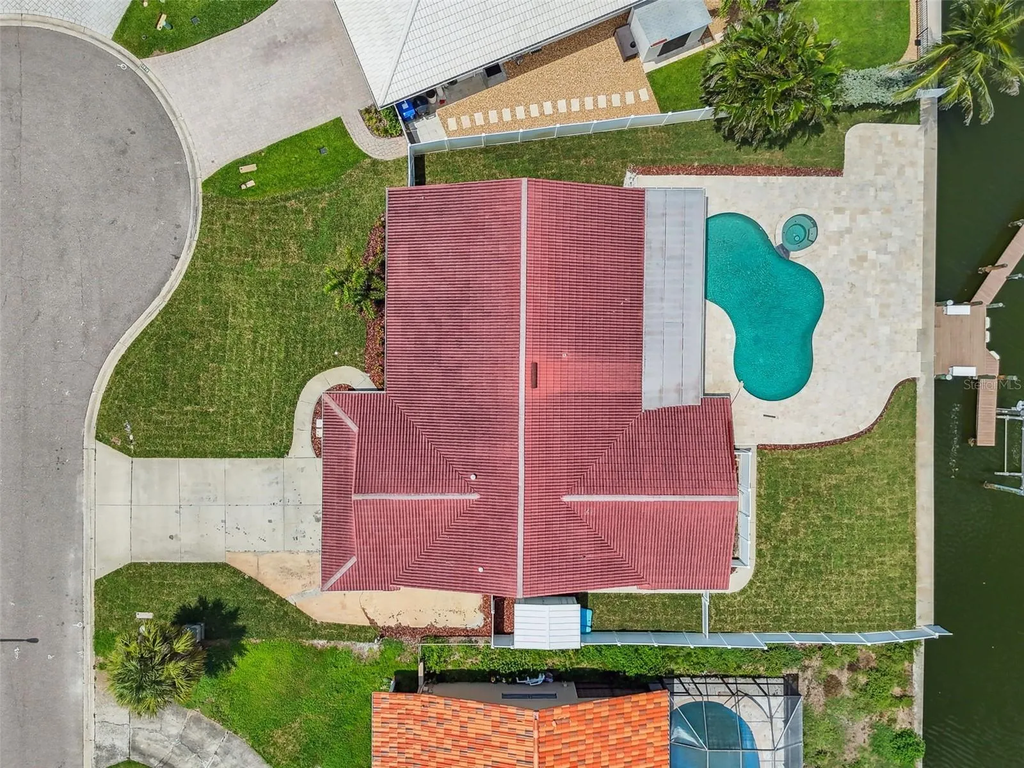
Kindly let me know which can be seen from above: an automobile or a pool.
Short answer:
pool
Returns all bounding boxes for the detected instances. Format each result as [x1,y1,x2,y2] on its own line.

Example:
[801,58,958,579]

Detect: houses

[337,0,659,111]
[370,682,673,768]
[317,175,740,599]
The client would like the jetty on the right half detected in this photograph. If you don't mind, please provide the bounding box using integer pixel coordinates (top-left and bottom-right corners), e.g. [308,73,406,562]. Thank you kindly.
[934,213,1024,446]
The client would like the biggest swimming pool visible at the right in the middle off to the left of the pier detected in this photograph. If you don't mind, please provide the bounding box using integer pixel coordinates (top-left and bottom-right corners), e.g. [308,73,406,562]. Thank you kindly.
[709,208,828,404]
